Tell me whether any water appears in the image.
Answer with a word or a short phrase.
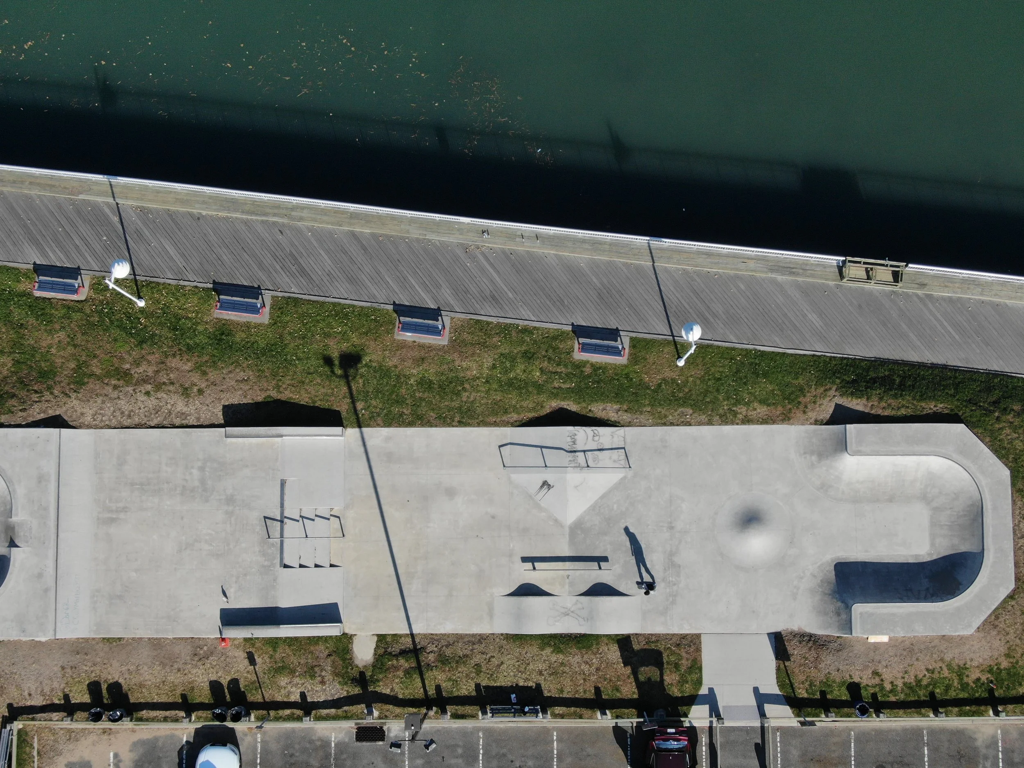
Yes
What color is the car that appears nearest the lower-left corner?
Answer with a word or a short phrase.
white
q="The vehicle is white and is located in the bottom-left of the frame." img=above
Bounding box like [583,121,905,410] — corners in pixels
[196,742,244,768]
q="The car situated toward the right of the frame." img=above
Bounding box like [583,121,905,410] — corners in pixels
[646,724,694,768]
